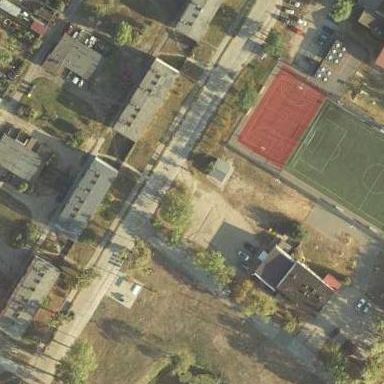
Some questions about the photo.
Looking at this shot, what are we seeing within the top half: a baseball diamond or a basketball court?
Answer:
basketball court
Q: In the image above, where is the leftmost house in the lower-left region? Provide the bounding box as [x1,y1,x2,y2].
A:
[0,252,61,338]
